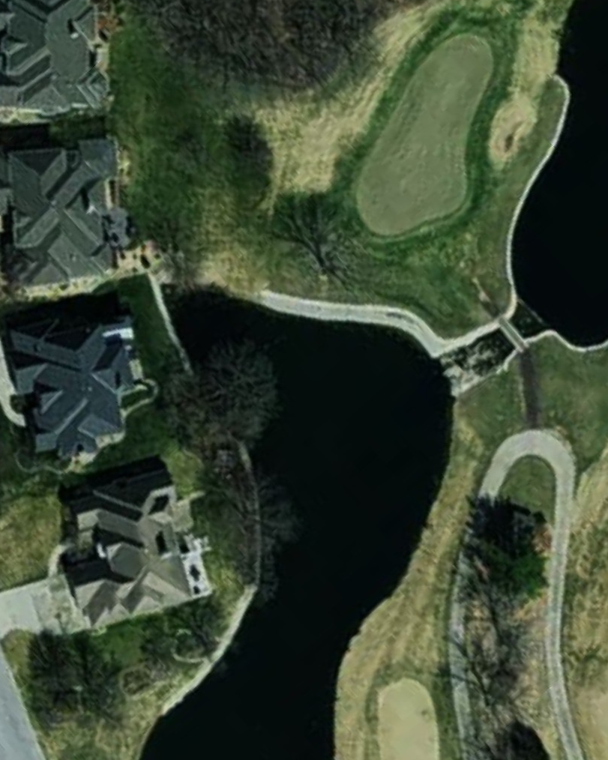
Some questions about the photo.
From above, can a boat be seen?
No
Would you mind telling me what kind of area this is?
residential area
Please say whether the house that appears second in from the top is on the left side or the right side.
left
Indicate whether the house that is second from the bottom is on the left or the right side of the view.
left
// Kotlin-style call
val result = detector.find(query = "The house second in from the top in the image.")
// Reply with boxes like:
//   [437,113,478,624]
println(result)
[0,138,117,285]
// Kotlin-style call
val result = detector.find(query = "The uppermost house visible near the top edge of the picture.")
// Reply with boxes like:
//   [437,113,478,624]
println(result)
[0,0,108,111]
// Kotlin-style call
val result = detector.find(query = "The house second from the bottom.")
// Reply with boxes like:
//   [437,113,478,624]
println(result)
[1,311,137,461]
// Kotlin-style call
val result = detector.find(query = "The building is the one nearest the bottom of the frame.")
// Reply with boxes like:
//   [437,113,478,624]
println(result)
[62,466,198,625]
